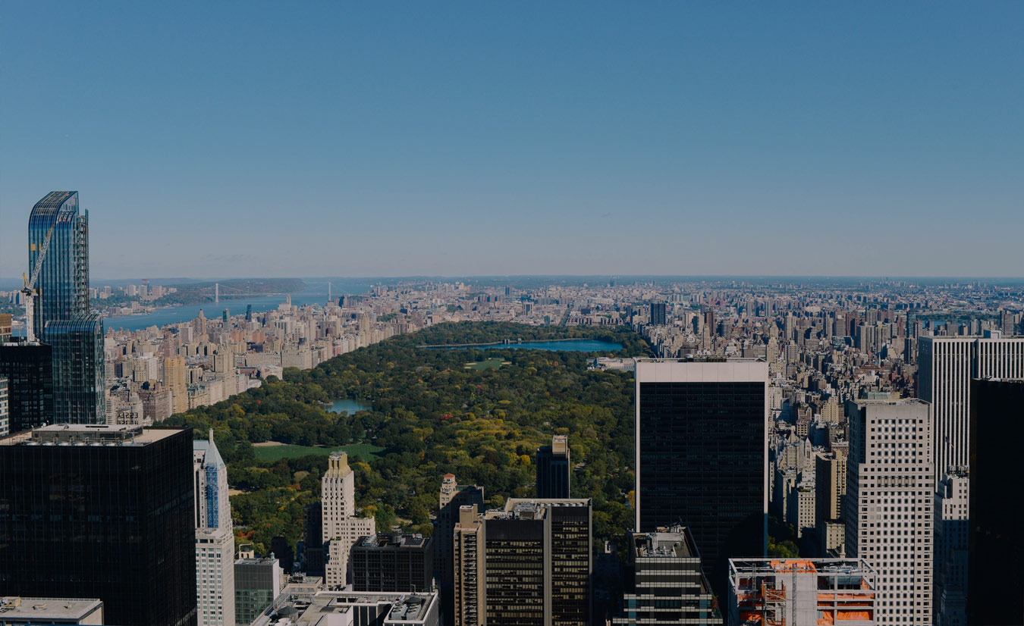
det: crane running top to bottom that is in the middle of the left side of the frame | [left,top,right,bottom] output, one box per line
[17,219,58,339]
